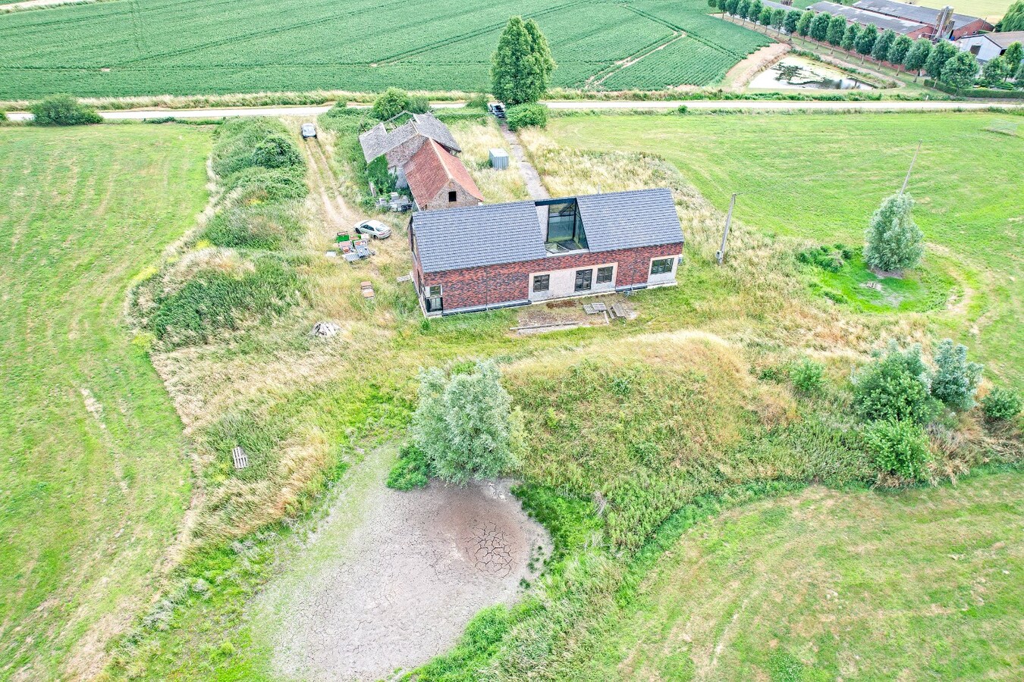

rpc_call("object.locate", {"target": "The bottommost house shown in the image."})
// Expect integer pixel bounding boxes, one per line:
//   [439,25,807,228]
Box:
[413,184,688,317]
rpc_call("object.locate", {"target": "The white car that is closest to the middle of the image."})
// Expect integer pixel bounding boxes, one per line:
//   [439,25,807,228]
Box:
[355,217,396,239]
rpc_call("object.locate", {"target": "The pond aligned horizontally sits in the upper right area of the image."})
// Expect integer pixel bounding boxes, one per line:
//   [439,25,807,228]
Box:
[750,61,883,91]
